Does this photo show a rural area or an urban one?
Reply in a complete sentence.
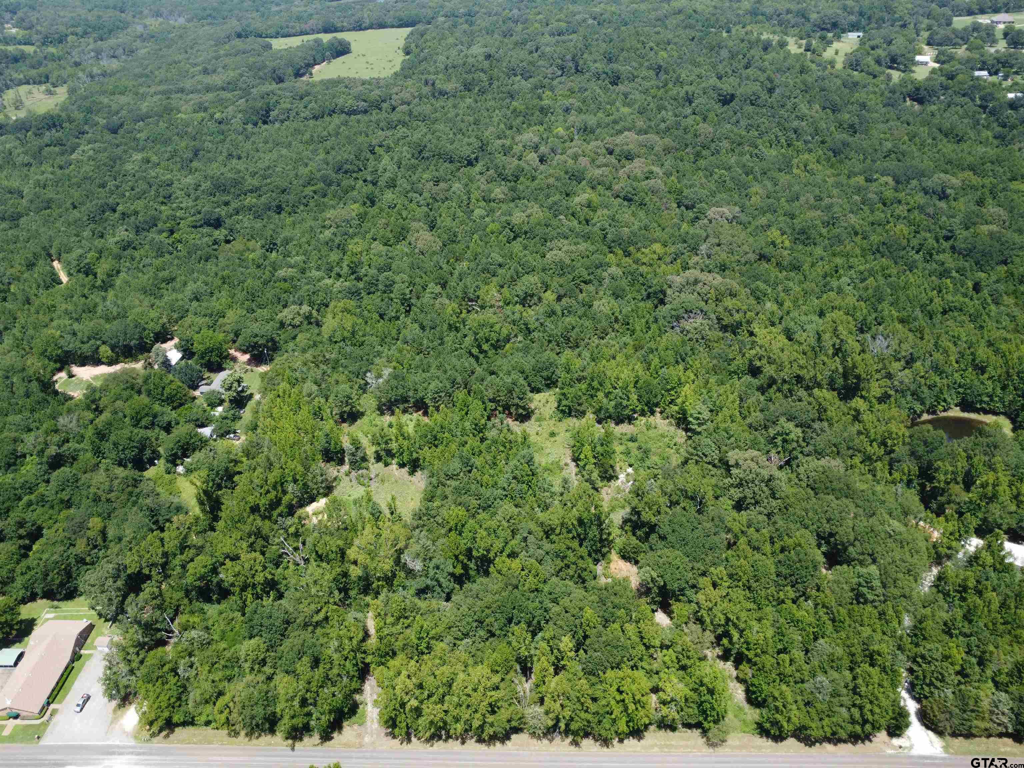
The land in this view is best described as rural.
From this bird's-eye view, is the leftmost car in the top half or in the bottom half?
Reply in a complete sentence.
You can find the leftmost car in the bottom half.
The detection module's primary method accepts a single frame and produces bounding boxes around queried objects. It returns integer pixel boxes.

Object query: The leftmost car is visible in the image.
[70,692,91,712]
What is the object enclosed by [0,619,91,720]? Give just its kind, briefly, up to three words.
building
